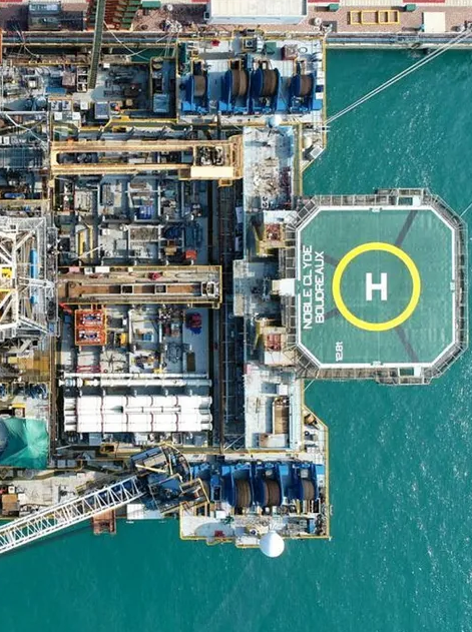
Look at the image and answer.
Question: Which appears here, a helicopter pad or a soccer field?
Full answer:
There is a helicopter pad in the scene.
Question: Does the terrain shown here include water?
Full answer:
Yes, there's water in this view.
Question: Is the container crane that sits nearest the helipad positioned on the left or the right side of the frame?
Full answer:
It is on the left.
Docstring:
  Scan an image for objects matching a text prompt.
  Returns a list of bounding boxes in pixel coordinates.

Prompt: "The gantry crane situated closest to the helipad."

[49,136,245,189]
